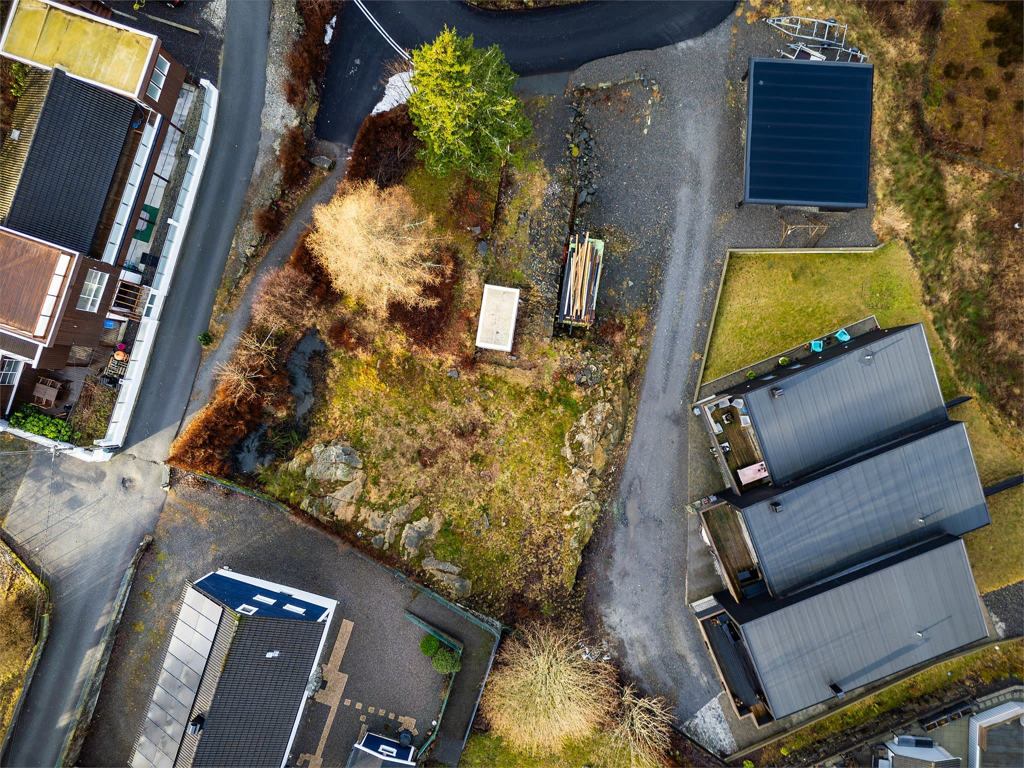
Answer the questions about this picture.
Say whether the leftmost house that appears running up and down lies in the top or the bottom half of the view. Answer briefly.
top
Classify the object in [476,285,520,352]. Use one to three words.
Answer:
shed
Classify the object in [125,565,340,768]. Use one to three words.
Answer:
house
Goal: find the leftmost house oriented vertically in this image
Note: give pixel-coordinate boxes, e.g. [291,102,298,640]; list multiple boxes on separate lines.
[0,0,194,415]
